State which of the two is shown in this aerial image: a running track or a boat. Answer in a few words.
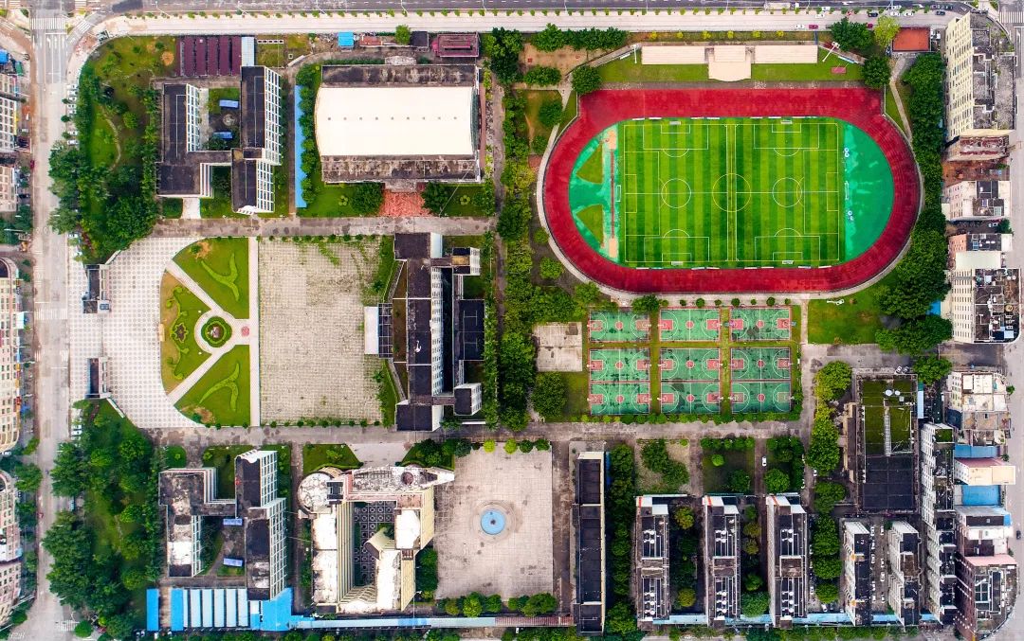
running track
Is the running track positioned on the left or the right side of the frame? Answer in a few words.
right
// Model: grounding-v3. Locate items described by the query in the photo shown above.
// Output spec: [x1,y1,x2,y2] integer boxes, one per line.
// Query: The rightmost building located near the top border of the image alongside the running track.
[946,10,1015,166]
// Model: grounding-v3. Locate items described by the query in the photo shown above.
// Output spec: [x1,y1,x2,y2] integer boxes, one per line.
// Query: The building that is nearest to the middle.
[365,233,488,431]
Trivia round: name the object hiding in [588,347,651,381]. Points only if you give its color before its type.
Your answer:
green basketball court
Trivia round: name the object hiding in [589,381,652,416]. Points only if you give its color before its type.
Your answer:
green basketball court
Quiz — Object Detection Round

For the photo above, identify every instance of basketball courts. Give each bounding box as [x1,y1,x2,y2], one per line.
[588,347,651,381]
[730,380,792,415]
[730,307,791,341]
[588,308,651,342]
[659,347,721,381]
[659,381,721,415]
[589,381,652,416]
[730,346,792,381]
[658,307,721,342]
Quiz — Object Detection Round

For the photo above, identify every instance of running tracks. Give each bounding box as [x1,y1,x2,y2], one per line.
[536,81,925,299]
